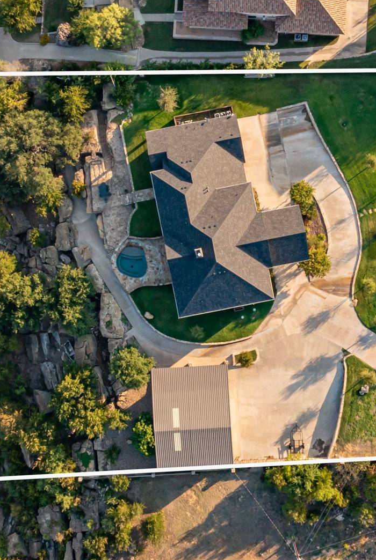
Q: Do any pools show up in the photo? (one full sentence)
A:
Yes, the frame does contain a pool.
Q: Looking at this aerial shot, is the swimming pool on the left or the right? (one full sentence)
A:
You can find the swimming pool on the left side of the picture.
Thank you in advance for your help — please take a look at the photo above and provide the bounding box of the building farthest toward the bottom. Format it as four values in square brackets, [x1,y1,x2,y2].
[150,356,235,477]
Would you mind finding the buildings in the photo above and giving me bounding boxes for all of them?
[150,356,235,477]
[182,0,349,39]
[145,115,310,318]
